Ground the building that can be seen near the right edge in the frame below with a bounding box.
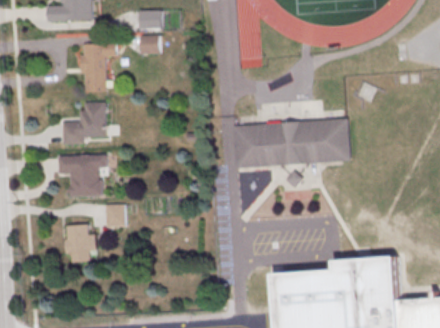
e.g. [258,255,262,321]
[266,255,440,328]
